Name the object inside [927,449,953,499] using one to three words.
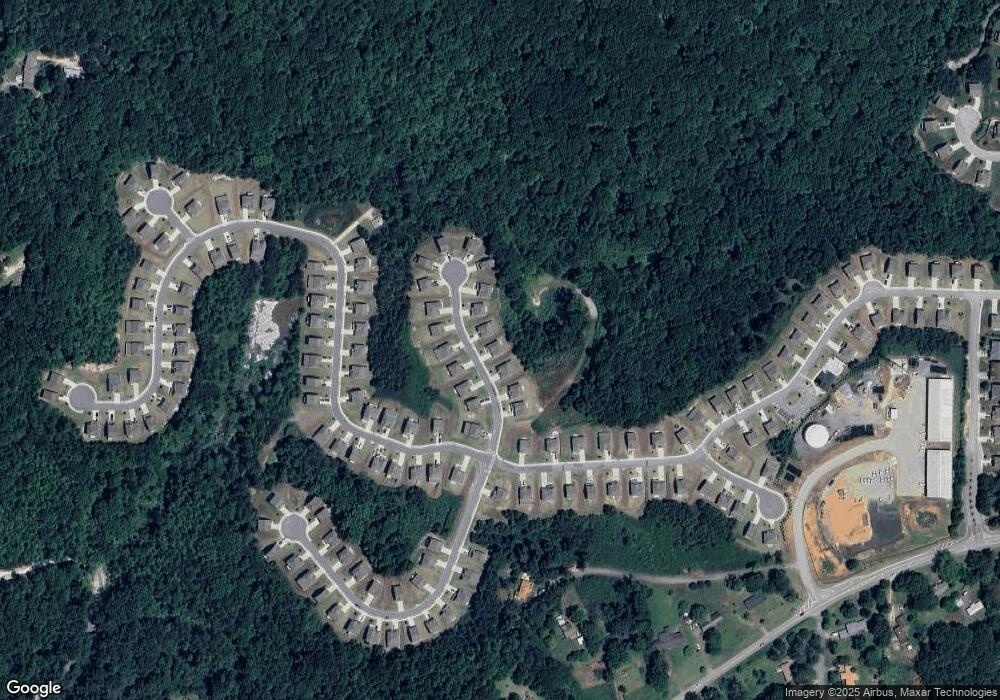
building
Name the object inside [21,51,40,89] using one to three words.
house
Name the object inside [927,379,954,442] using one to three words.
building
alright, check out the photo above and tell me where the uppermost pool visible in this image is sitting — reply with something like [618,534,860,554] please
[813,355,846,391]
